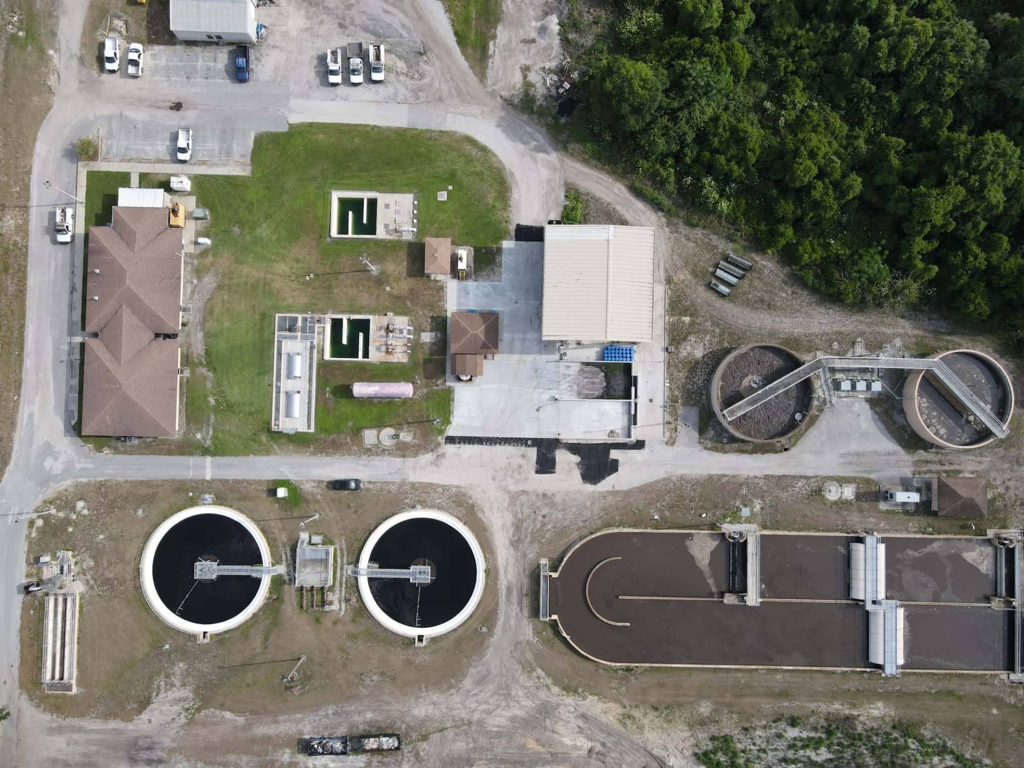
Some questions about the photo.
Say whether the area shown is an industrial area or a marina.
industrial area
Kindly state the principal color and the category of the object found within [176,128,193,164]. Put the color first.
white vehicle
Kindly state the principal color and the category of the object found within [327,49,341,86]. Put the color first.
white vehicle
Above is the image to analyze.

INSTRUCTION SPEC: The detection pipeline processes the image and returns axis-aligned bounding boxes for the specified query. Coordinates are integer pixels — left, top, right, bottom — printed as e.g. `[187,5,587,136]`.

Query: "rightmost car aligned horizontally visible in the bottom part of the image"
[333,478,362,492]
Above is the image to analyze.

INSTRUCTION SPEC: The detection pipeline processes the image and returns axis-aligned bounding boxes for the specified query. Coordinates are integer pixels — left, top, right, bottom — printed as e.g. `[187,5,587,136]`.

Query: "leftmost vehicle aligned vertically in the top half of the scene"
[56,208,74,244]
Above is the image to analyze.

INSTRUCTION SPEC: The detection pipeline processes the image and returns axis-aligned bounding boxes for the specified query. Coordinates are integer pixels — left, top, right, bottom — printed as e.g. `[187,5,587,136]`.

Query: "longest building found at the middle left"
[81,188,186,436]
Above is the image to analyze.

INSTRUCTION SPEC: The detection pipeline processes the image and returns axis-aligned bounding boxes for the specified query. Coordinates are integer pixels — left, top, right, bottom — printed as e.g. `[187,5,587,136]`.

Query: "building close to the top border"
[170,0,260,48]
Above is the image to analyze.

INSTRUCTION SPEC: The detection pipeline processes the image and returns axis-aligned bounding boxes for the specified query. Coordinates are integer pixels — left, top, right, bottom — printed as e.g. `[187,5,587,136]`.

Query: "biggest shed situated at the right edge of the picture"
[930,477,988,518]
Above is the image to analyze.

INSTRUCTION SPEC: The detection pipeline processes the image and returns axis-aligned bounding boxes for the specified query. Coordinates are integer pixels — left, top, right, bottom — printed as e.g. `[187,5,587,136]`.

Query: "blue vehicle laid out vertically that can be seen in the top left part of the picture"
[234,47,250,82]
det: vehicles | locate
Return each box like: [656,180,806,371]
[56,208,74,244]
[327,49,341,86]
[348,43,362,84]
[128,43,145,79]
[369,43,384,83]
[333,478,362,492]
[234,47,250,82]
[176,128,193,164]
[104,38,120,73]
[138,0,152,14]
